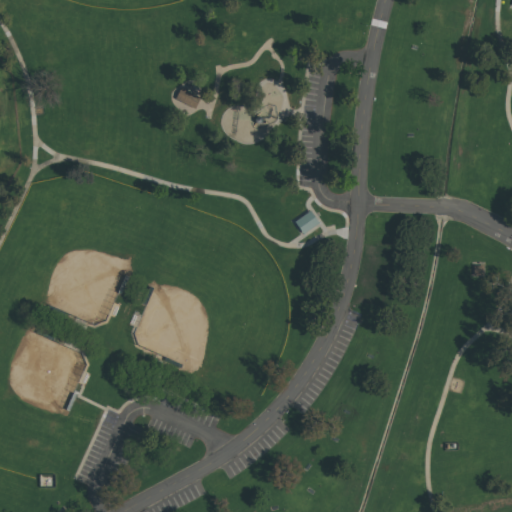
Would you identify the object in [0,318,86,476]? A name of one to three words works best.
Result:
baseball field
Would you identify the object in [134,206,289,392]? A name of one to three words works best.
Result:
baseball field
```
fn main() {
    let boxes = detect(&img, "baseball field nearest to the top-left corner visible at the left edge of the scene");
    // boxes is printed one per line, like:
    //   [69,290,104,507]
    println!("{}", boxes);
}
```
[0,174,150,324]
